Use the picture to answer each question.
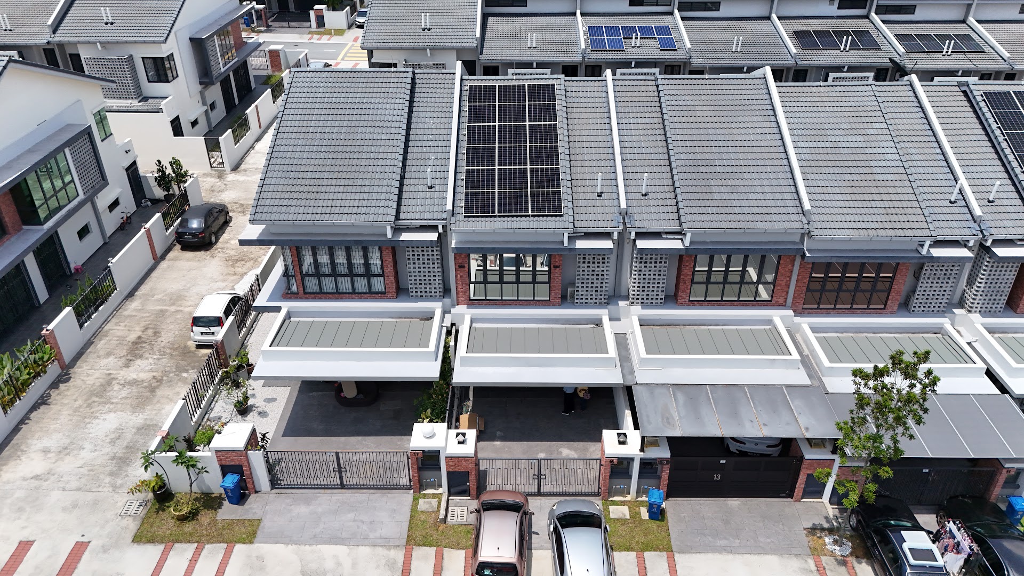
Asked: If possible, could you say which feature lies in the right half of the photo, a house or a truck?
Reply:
house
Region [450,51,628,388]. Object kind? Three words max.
house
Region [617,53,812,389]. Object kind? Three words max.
house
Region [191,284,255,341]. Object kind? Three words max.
car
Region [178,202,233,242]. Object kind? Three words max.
car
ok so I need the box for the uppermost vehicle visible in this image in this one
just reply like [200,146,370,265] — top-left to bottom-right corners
[356,6,369,25]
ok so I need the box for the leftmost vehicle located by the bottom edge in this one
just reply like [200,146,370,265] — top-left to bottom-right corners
[470,488,533,576]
